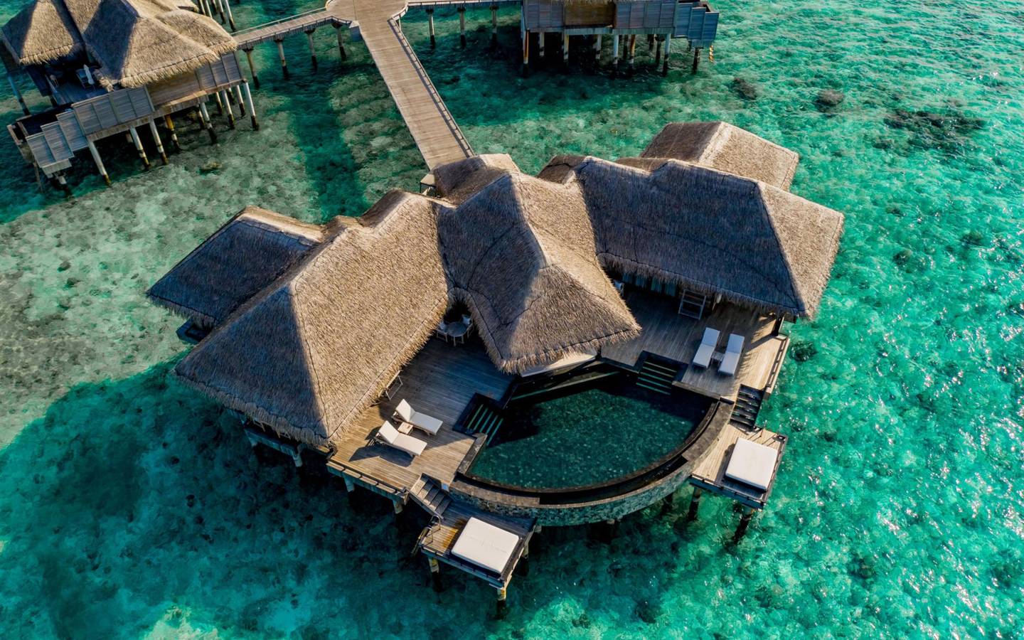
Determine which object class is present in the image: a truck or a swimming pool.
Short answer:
swimming pool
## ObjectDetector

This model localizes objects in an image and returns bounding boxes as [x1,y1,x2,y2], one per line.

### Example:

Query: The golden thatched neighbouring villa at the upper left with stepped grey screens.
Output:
[0,0,250,200]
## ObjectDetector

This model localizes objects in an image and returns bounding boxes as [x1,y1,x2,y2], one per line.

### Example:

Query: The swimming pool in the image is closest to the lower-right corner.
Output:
[443,344,741,558]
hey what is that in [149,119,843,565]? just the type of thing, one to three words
house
